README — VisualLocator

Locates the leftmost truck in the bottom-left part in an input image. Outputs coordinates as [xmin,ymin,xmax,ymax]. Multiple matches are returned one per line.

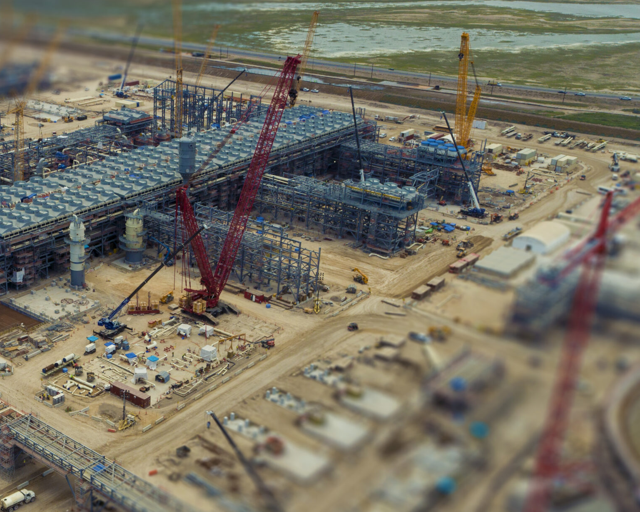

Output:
[0,486,40,512]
